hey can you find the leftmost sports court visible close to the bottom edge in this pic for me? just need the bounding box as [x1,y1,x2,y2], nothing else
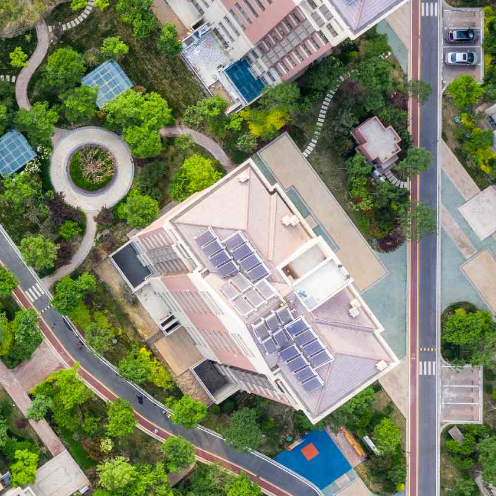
[276,430,352,490]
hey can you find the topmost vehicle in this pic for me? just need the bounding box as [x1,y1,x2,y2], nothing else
[448,27,480,44]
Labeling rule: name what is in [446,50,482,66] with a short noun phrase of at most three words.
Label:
car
